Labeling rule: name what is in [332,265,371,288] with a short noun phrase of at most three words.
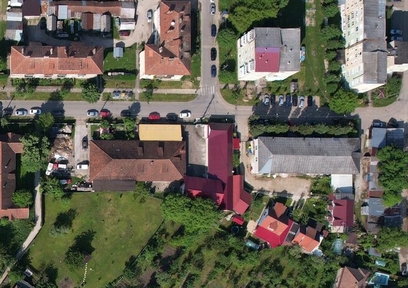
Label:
house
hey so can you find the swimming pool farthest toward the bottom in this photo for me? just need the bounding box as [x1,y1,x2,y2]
[371,273,391,286]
